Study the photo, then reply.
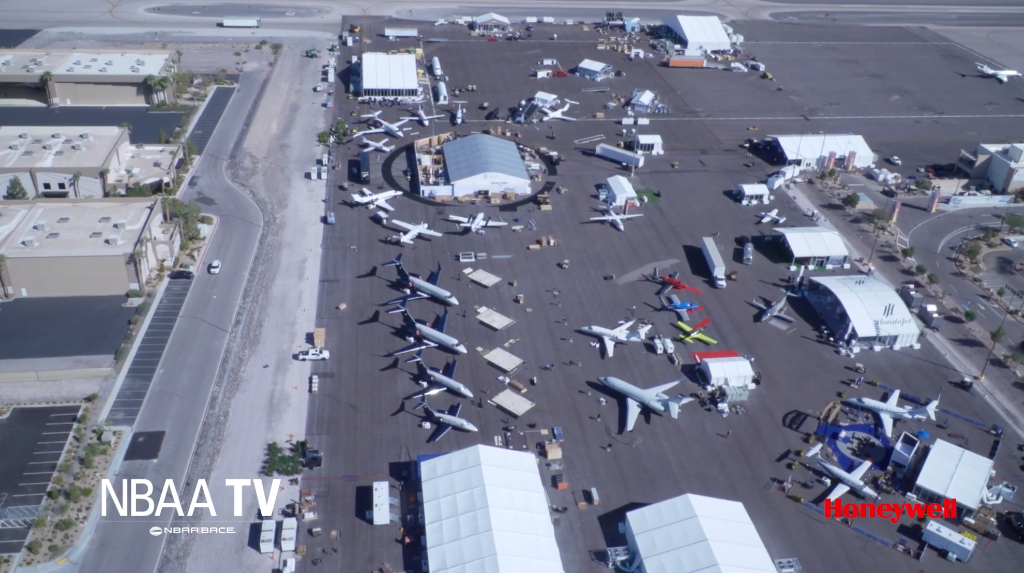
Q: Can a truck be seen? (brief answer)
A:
Yes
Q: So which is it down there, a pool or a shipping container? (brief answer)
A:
shipping container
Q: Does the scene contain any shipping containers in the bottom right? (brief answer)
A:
Yes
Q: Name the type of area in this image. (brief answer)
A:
airport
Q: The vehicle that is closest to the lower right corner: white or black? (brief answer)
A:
black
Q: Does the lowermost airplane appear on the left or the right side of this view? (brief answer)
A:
right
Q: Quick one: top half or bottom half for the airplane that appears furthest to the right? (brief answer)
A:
top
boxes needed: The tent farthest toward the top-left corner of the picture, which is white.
[362,54,418,97]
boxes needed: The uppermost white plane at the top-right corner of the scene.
[974,60,1024,81]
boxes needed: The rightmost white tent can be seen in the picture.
[905,439,996,528]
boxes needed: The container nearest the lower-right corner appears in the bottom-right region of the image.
[923,518,977,561]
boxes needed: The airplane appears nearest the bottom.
[800,435,883,502]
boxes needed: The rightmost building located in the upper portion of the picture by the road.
[921,140,1024,197]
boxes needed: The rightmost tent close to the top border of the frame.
[660,15,730,51]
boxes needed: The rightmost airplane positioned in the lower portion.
[844,392,952,439]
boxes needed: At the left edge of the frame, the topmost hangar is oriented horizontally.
[0,48,184,106]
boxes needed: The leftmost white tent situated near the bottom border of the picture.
[416,443,569,573]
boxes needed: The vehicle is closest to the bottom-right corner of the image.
[1001,507,1024,531]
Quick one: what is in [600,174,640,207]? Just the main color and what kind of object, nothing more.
white tent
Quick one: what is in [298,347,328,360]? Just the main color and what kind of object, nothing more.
white vehicle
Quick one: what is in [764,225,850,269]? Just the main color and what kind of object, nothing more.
white tent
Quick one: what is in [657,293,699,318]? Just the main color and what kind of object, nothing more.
blue airplane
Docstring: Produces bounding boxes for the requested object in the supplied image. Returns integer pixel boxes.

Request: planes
[357,132,388,154]
[399,97,445,127]
[435,18,453,26]
[590,197,643,232]
[398,346,473,400]
[657,293,699,318]
[410,389,477,437]
[650,267,691,294]
[542,96,580,121]
[844,392,952,439]
[440,98,478,126]
[376,296,466,355]
[372,252,458,306]
[393,219,445,242]
[578,318,659,360]
[759,198,799,218]
[348,108,407,139]
[753,284,804,323]
[974,60,1024,81]
[800,435,883,502]
[449,214,508,233]
[348,188,402,211]
[597,379,709,437]
[677,319,719,342]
